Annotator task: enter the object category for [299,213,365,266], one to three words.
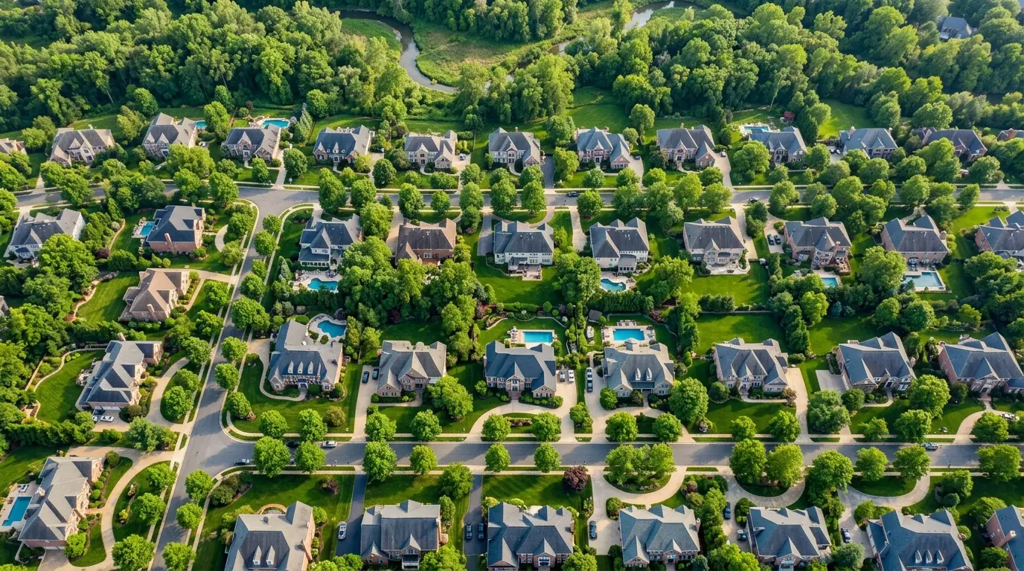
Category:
house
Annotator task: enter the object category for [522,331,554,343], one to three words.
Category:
swimming pool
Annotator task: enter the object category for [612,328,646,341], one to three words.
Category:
swimming pool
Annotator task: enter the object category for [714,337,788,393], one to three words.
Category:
house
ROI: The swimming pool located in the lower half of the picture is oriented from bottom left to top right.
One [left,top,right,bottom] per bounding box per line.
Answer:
[0,495,34,527]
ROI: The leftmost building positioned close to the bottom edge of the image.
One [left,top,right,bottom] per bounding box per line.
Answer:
[18,453,107,548]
